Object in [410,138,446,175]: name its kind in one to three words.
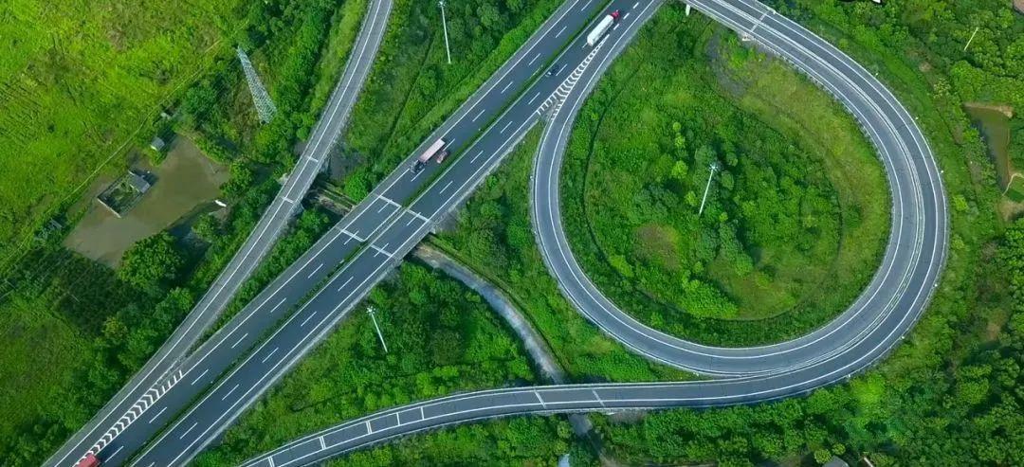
truck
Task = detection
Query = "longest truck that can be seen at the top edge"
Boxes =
[586,12,620,47]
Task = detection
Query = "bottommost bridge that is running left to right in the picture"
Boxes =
[503,381,655,418]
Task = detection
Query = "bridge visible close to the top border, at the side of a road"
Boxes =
[672,0,787,43]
